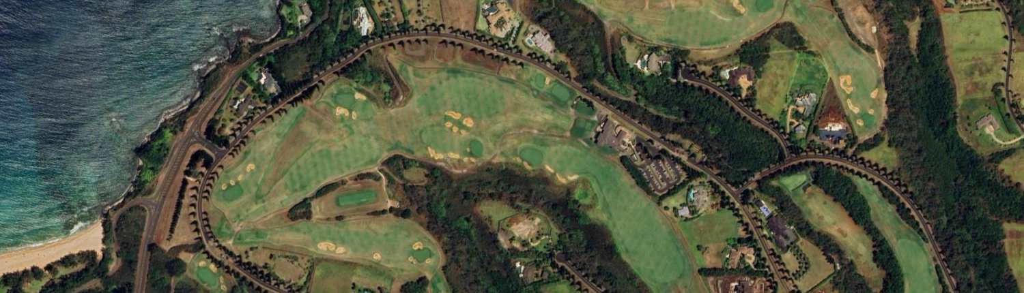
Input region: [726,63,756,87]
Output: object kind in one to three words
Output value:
house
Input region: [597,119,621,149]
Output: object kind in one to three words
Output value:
building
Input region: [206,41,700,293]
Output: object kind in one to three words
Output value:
golf course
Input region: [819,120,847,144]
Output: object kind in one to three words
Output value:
house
